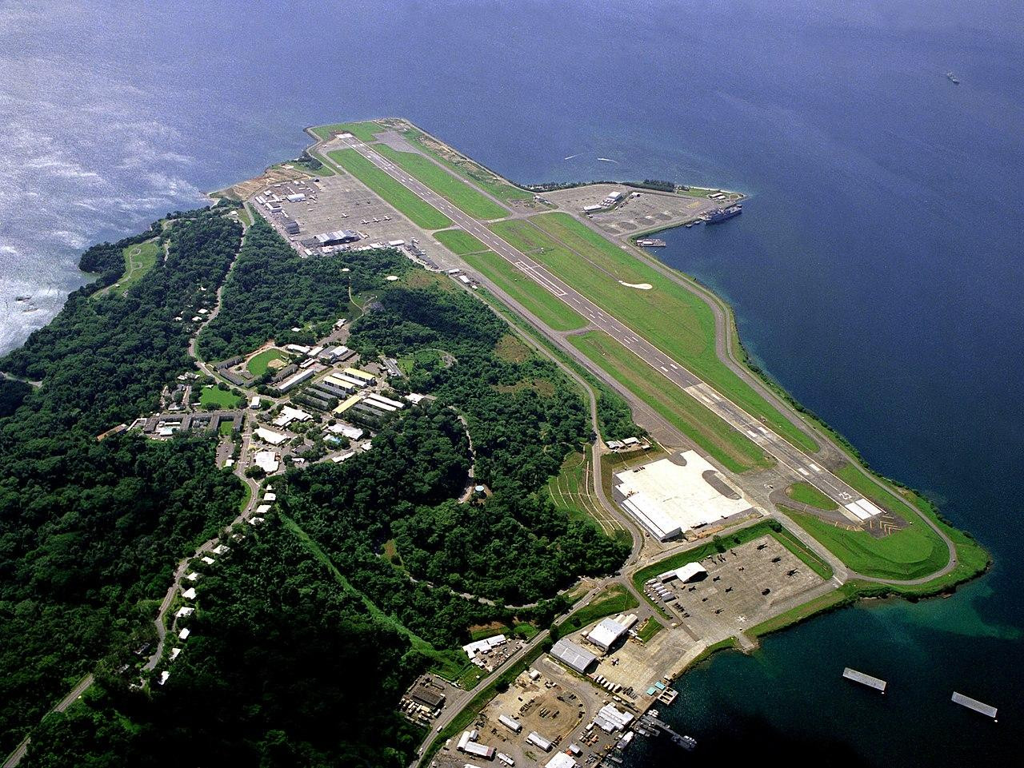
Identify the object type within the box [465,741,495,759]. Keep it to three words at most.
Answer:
shed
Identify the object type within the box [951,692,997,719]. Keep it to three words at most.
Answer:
ship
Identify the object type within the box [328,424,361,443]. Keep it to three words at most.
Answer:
building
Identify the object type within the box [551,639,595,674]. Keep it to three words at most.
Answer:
hangar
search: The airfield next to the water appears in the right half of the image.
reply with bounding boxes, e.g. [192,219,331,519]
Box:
[248,121,985,768]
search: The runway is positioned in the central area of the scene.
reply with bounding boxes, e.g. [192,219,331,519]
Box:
[334,131,903,535]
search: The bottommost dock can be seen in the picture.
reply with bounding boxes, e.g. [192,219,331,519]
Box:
[636,714,697,752]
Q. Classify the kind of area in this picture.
port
